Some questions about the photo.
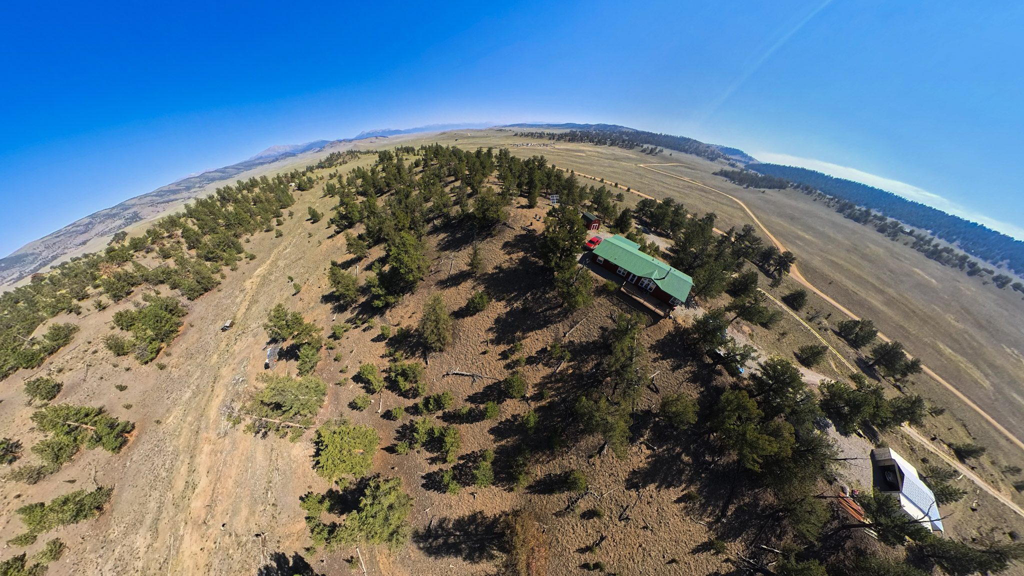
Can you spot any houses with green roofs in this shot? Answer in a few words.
Yes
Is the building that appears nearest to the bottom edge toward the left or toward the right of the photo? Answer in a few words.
right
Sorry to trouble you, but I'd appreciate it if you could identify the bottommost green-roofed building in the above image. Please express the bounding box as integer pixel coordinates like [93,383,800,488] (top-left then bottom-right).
[592,238,702,327]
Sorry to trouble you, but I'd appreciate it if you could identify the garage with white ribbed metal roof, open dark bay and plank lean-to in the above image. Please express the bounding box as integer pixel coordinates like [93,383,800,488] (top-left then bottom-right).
[867,445,946,524]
